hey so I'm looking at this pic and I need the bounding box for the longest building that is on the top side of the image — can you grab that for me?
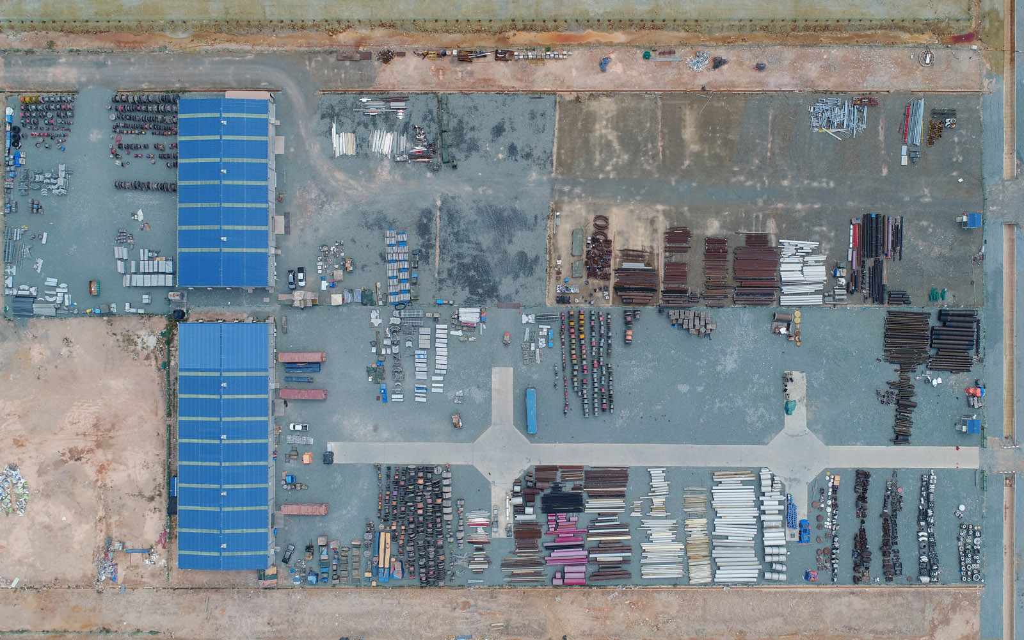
[177,97,275,288]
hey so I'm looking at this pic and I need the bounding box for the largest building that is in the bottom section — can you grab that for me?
[177,322,275,572]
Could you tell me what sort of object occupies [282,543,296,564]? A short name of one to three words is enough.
vehicle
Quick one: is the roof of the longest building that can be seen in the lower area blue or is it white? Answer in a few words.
blue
